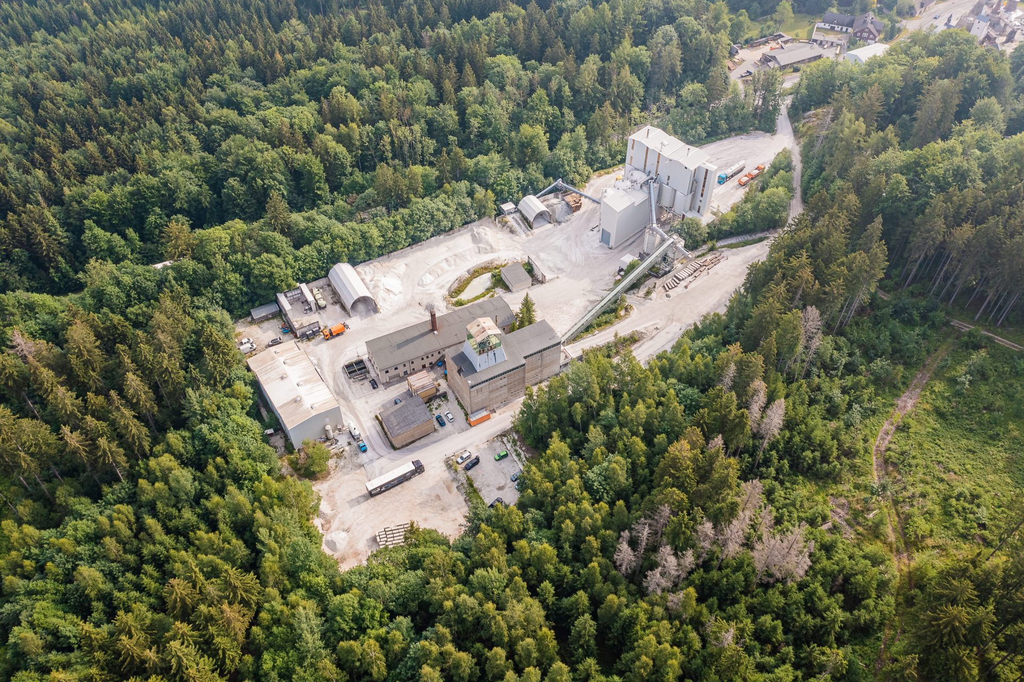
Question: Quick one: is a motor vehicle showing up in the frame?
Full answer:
Yes, you can see a motor vehicle in this photo.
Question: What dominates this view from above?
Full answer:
What you mostly see from above here is trees.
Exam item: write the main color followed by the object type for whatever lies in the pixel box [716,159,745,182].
white truck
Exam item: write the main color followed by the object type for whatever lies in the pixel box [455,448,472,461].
white vehicle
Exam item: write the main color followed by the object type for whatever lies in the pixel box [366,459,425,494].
white truck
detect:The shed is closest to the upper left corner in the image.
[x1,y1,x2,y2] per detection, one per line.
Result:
[248,296,279,321]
